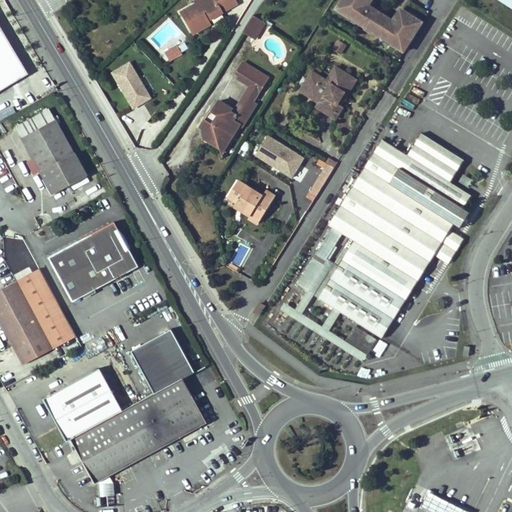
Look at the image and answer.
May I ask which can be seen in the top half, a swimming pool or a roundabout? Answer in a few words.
swimming pool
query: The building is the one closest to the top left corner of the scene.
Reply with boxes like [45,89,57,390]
[0,25,28,92]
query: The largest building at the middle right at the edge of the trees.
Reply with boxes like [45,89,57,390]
[318,140,470,338]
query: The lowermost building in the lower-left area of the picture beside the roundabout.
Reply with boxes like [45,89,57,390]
[72,380,207,482]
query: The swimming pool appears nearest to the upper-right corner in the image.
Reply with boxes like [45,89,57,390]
[250,34,288,64]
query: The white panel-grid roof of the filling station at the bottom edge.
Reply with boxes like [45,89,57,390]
[419,490,478,512]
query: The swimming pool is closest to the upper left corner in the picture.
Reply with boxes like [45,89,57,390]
[147,18,187,60]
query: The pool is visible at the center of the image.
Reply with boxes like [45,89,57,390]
[231,242,252,268]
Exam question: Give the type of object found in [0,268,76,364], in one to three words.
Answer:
building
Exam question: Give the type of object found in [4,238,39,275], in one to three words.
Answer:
shed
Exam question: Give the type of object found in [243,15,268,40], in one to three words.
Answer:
house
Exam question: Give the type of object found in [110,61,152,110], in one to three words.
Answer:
house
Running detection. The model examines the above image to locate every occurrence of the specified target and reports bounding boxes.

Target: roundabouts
[254,394,366,506]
